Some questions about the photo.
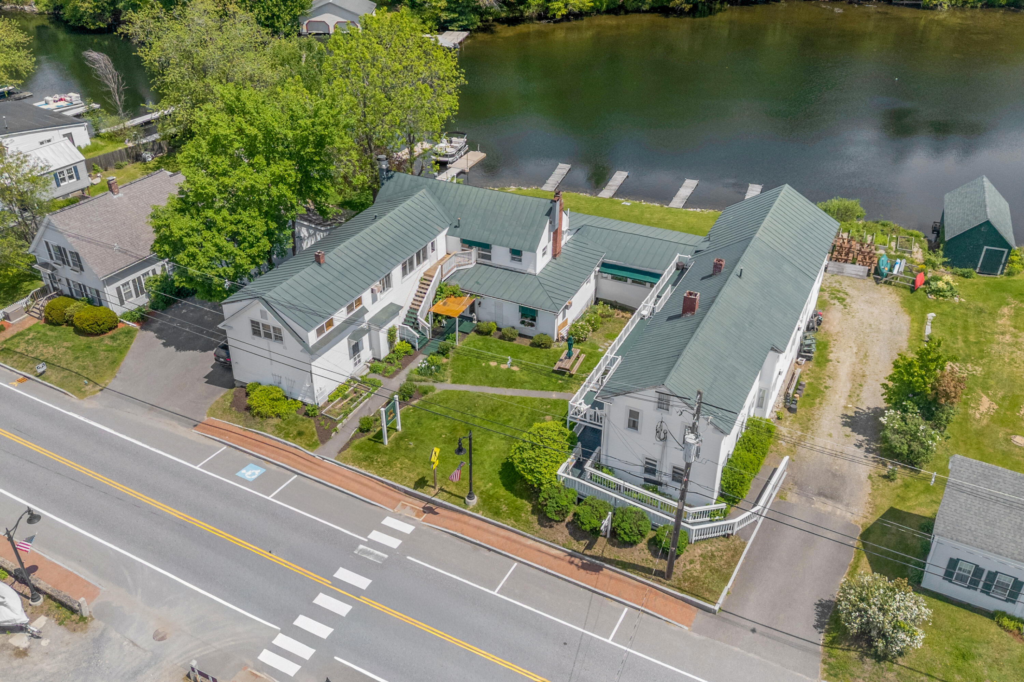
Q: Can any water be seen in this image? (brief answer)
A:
Yes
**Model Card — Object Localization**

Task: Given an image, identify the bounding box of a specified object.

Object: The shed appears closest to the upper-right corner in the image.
[932,175,1015,278]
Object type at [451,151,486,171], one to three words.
pier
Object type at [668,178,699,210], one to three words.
pier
